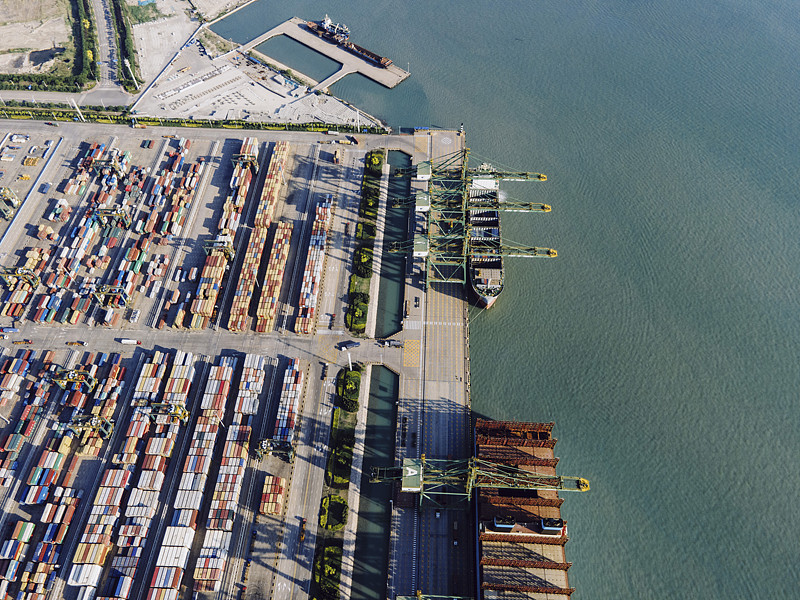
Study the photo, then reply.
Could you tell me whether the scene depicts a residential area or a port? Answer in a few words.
port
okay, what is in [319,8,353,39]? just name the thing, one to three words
boat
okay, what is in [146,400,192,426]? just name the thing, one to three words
container crane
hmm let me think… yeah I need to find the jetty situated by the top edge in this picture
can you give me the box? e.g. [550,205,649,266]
[238,16,412,93]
